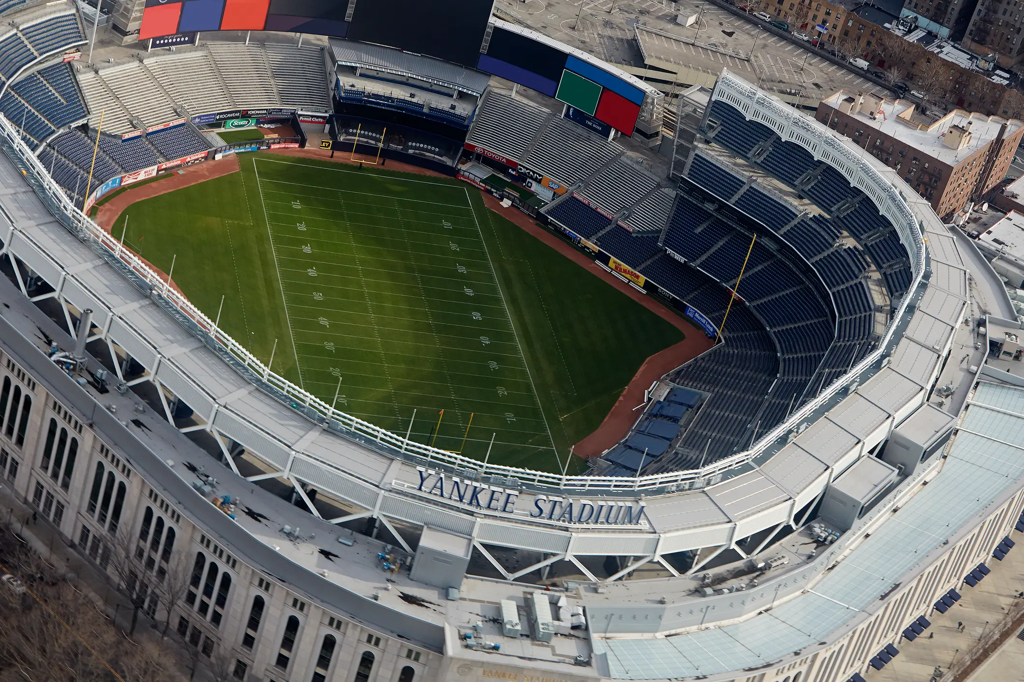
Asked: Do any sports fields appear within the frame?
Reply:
Yes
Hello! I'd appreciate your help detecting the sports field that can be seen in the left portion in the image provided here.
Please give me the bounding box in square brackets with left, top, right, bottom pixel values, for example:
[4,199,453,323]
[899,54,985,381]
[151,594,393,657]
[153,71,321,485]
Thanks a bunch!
[111,151,684,487]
